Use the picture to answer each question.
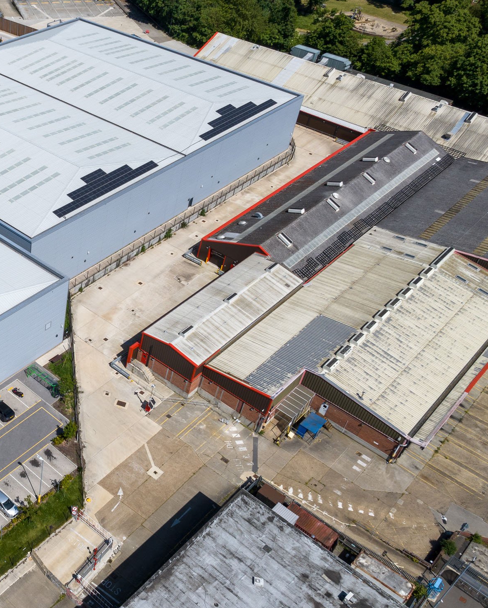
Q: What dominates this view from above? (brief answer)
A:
buildings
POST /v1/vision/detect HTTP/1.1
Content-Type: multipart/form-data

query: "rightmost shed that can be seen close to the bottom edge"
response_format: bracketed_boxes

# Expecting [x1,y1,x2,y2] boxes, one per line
[450,541,488,607]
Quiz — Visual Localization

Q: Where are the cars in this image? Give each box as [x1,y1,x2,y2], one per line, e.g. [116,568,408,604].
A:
[0,399,13,424]
[0,487,18,520]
